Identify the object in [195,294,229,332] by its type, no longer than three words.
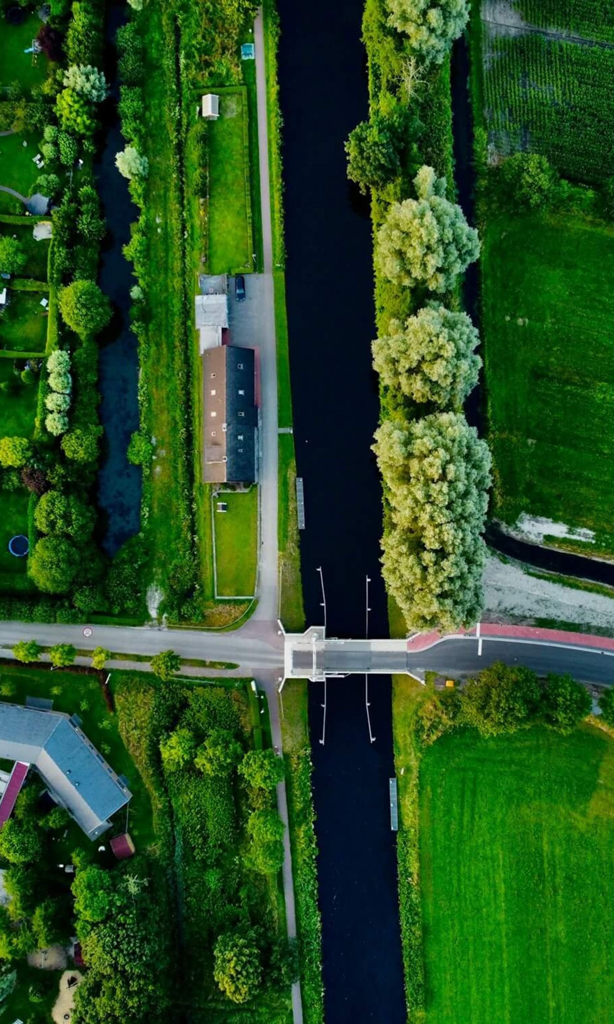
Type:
building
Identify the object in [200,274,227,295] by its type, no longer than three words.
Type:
shed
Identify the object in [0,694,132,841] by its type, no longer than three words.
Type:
building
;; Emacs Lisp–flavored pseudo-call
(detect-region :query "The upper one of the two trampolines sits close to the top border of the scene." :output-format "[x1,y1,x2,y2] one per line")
[4,4,25,26]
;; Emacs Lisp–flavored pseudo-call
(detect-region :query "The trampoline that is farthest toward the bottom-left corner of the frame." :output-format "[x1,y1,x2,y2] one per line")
[9,536,27,556]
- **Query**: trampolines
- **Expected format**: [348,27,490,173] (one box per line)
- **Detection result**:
[4,4,25,26]
[9,536,27,556]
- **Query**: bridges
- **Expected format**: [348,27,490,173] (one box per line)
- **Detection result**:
[277,618,426,693]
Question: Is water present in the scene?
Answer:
Yes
